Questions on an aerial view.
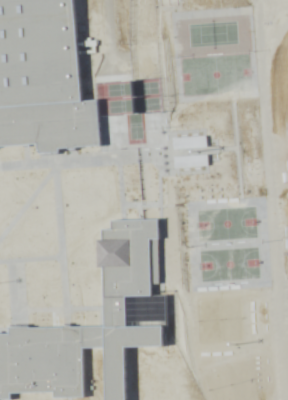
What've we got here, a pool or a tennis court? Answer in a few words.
tennis court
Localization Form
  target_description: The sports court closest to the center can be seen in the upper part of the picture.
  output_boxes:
[128,114,146,145]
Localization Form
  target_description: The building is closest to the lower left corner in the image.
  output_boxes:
[0,219,164,400]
